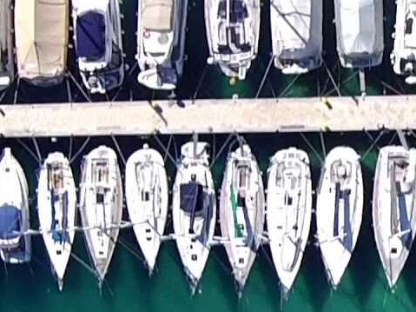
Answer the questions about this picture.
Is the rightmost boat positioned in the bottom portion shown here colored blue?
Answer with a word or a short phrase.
No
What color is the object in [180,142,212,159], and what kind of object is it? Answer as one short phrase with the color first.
white boat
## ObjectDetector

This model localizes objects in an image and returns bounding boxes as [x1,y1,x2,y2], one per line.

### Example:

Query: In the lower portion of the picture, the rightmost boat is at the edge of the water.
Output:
[370,129,416,290]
